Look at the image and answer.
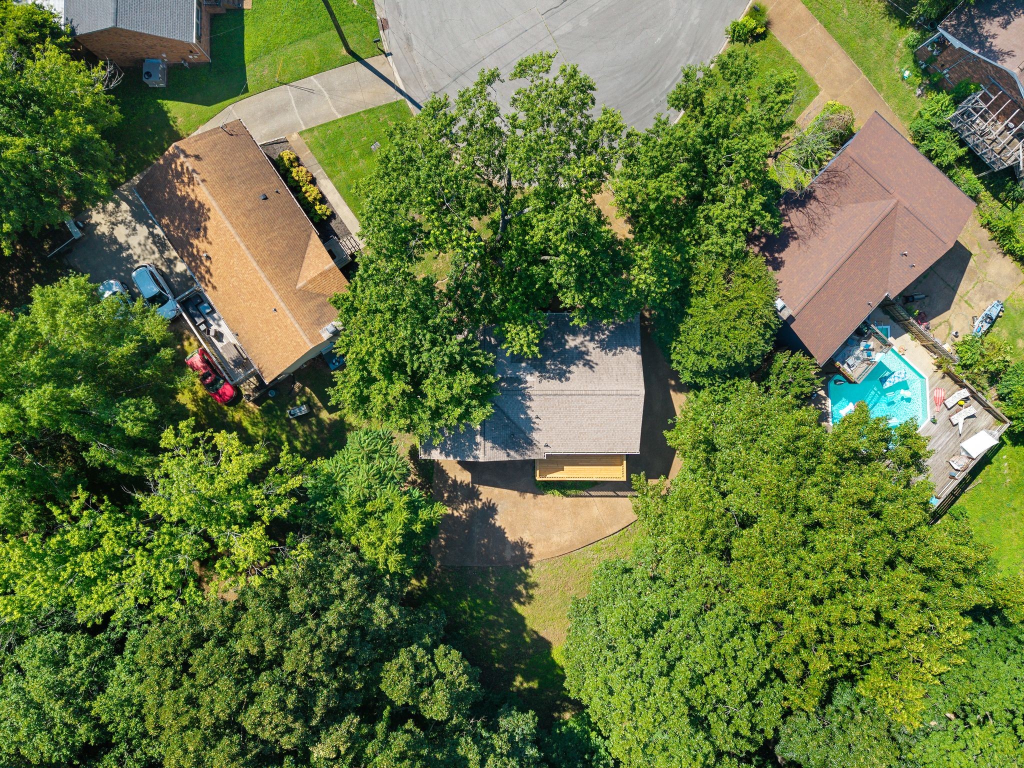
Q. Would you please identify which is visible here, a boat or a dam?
boat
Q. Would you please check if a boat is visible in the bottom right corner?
No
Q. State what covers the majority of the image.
trees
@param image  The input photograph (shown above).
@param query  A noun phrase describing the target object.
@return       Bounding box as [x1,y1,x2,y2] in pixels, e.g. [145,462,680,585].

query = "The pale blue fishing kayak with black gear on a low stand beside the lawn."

[976,299,1008,337]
